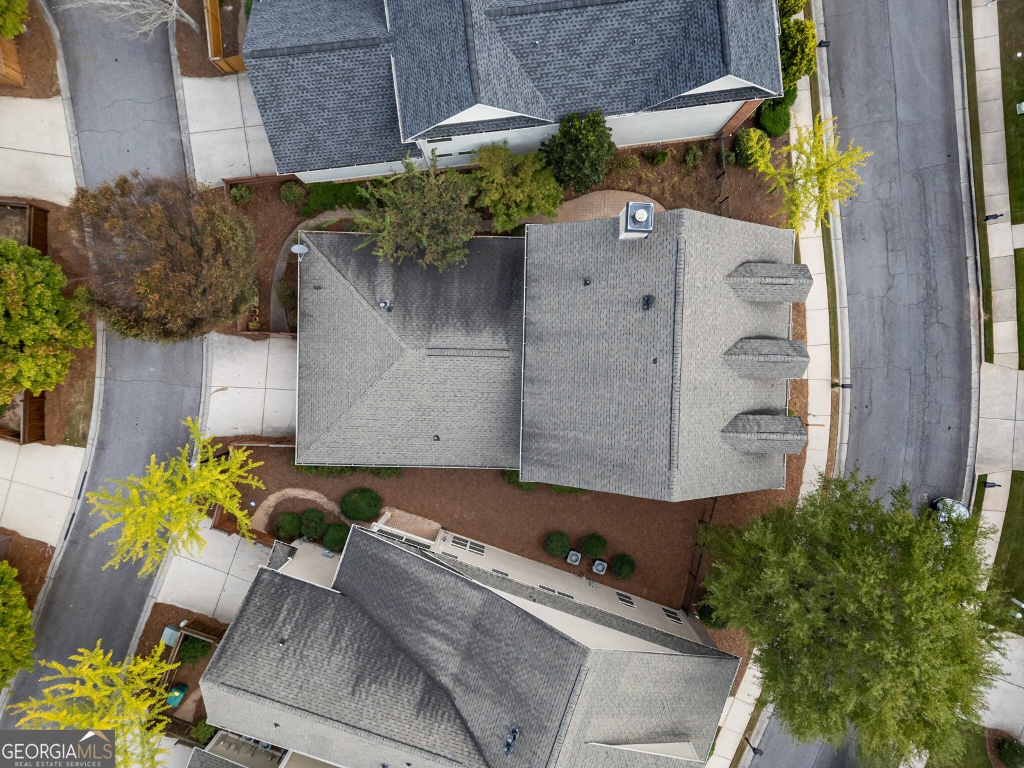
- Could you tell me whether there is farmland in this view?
No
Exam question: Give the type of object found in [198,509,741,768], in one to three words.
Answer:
house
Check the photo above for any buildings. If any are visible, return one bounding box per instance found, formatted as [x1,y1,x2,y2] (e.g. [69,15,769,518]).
[198,509,741,768]
[242,0,786,184]
[291,202,816,501]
